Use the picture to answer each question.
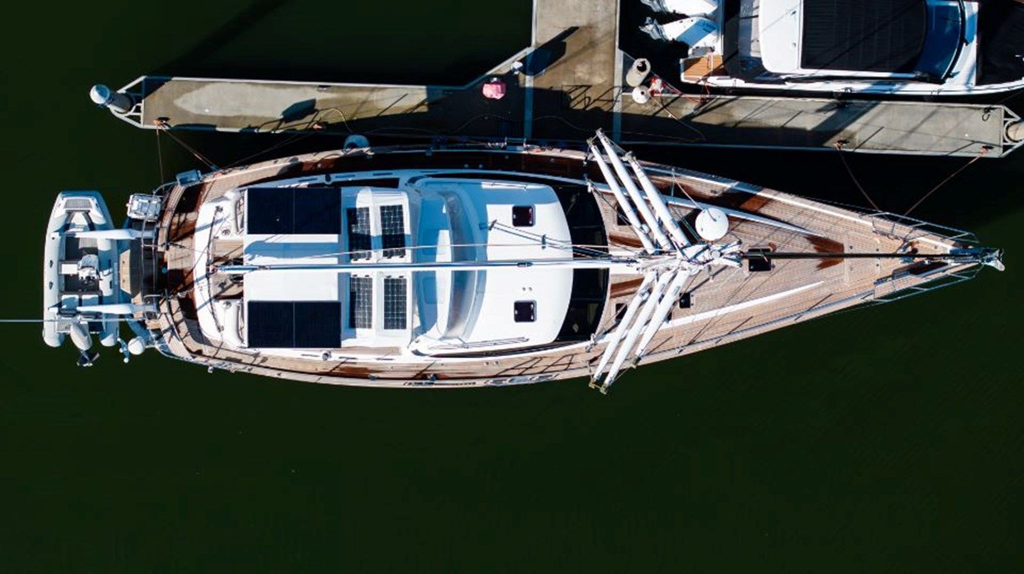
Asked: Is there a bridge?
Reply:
No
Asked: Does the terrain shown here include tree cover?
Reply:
No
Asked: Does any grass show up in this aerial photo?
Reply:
No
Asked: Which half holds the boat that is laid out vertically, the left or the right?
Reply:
left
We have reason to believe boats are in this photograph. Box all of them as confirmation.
[50,124,1005,398]
[44,189,120,368]
[644,0,1024,95]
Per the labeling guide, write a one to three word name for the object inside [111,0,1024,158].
pier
